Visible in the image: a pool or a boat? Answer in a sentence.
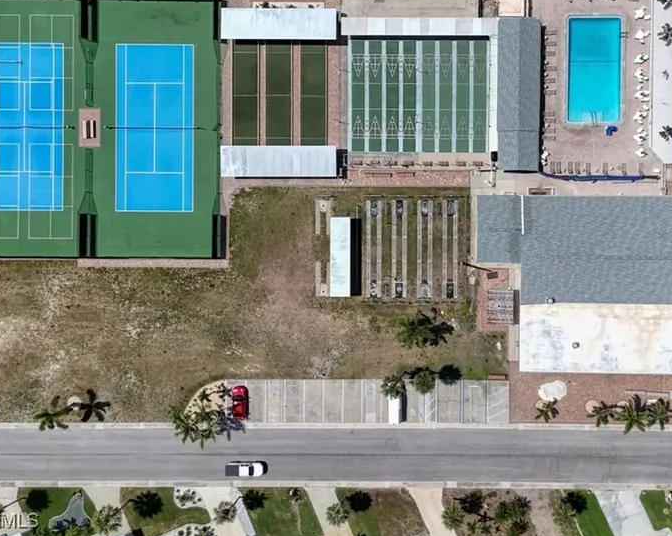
It is a pool that can be seen here.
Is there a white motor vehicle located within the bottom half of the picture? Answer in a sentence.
Yes, a white motor vehicle appears within the bottom half of the picture.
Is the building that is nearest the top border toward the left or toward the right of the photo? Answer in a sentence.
It is on the right.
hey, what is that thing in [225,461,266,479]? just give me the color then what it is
white vehicle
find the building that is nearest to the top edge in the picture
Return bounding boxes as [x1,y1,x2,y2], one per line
[497,17,541,172]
